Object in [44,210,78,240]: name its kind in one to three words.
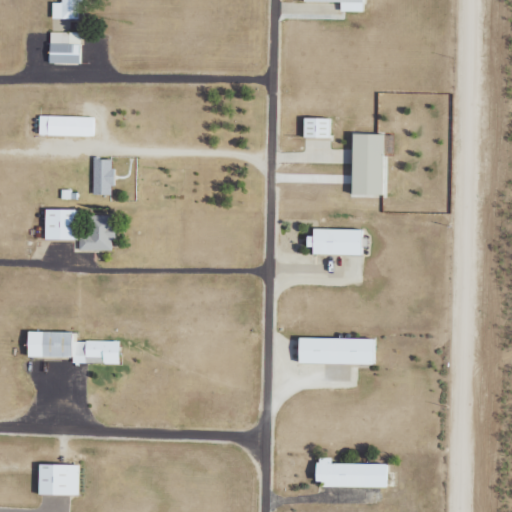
hangar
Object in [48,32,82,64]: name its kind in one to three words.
building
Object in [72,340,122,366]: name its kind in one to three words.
house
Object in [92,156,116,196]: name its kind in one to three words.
house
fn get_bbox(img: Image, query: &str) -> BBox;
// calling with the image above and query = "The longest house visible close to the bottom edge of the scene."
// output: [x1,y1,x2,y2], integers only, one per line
[316,458,395,488]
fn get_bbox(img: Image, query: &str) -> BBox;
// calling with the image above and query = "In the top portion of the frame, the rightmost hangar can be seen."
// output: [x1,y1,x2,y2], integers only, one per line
[352,132,389,197]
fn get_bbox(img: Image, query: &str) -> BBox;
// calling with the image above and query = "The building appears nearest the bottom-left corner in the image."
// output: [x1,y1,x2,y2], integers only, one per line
[38,464,80,496]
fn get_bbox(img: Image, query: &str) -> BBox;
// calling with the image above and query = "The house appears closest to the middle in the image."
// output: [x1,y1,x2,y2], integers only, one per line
[306,228,364,254]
